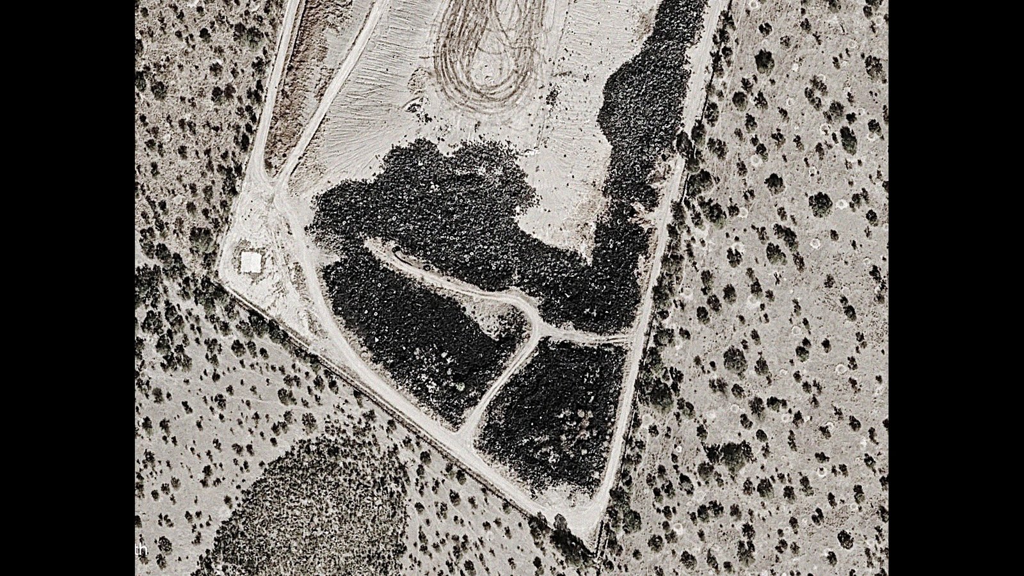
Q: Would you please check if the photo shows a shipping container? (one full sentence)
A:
No, I can't see a single shipping container in this photo.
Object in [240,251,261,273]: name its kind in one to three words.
shed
